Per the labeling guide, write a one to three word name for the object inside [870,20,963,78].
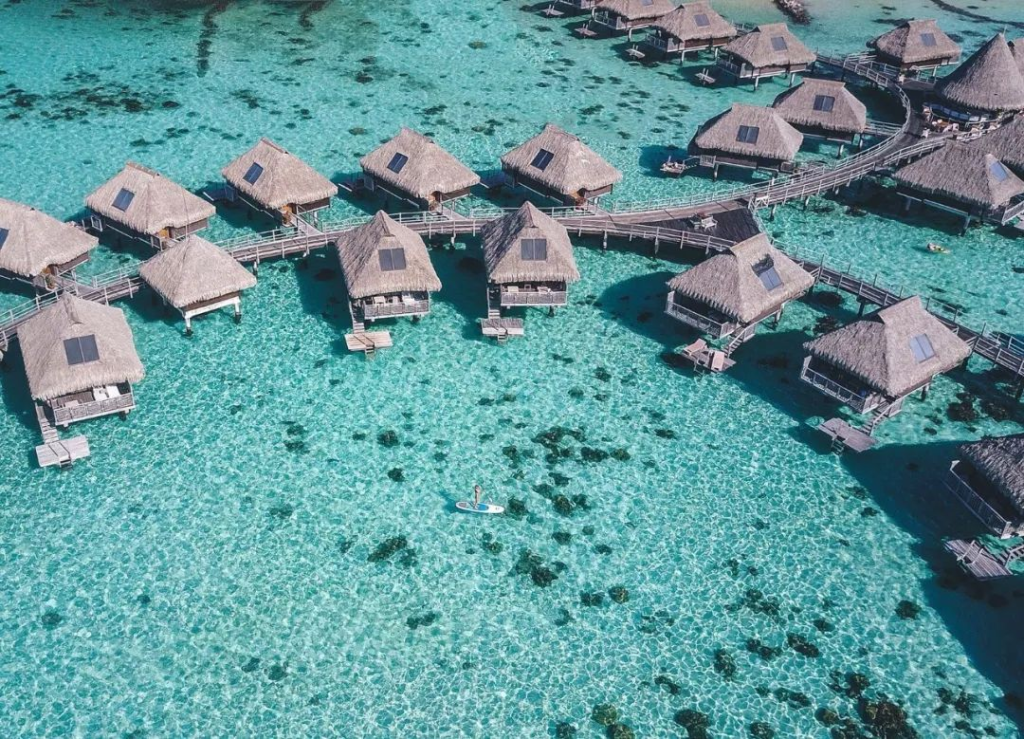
house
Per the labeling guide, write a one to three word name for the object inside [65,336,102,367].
solar panel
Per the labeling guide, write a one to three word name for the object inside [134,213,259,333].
building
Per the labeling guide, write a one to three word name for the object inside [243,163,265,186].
solar panel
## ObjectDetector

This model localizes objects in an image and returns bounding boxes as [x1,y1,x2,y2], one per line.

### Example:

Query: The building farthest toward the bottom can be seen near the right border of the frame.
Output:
[945,432,1024,577]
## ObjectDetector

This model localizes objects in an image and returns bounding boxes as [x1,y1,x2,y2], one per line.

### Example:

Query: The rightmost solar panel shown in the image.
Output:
[994,163,1015,185]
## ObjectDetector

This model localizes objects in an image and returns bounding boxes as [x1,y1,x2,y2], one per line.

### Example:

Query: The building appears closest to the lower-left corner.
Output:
[17,292,150,469]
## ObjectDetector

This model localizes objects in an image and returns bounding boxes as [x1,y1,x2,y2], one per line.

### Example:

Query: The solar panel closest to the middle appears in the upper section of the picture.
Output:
[521,240,546,261]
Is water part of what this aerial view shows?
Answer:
Yes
